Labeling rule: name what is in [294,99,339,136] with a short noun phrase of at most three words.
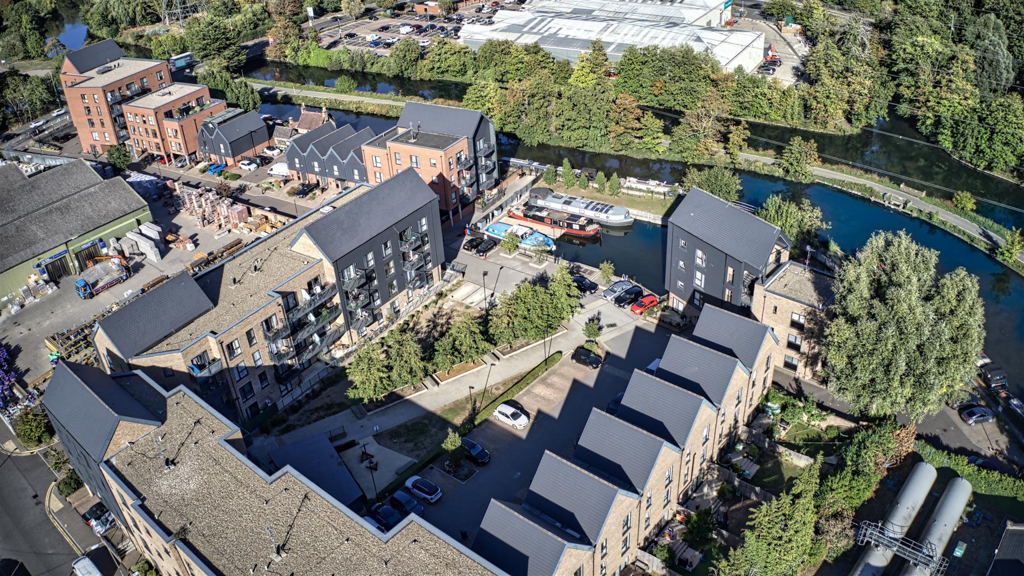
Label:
house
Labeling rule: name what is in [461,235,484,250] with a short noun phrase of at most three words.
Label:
car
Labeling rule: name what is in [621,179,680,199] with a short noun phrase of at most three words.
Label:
boat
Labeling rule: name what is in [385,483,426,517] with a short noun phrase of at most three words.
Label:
car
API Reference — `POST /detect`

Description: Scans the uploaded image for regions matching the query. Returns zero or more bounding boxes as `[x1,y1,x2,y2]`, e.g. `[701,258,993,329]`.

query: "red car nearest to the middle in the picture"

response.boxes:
[631,292,658,313]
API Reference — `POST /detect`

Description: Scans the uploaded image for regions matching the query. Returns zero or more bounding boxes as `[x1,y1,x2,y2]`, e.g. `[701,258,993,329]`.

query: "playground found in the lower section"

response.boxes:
[340,436,410,498]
